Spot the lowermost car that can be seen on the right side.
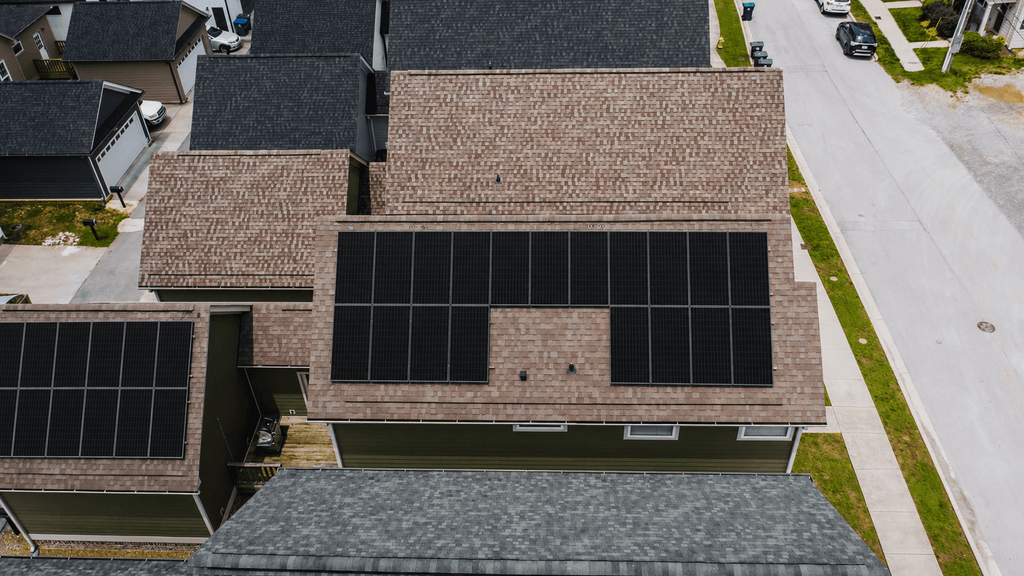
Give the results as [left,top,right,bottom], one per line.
[838,19,879,52]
